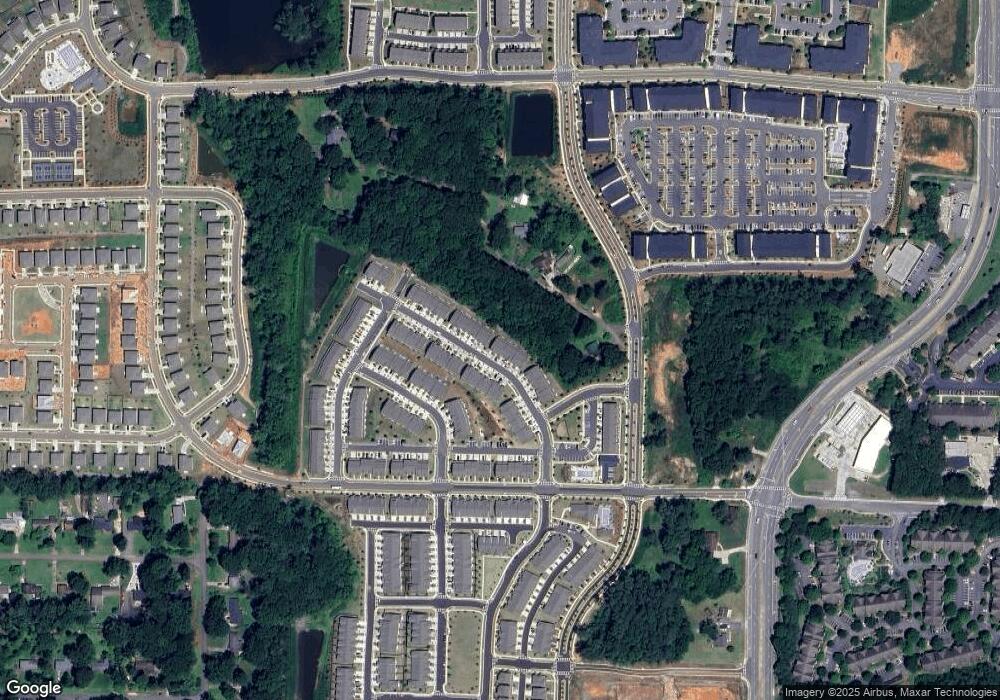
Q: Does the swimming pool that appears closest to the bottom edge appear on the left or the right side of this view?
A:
right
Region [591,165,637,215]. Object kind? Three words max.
building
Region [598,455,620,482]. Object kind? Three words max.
building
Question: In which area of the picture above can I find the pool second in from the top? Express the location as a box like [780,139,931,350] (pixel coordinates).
[571,465,603,482]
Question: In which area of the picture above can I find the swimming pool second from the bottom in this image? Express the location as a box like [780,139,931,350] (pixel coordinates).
[597,504,613,528]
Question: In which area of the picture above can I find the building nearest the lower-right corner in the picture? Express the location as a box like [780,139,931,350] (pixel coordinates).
[920,638,985,669]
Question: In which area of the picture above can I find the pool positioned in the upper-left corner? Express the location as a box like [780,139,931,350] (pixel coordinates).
[41,40,91,91]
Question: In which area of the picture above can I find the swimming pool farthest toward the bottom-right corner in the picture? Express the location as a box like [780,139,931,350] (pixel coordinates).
[848,560,875,584]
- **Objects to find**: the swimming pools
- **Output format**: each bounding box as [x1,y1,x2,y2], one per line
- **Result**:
[597,504,613,528]
[848,560,875,584]
[41,40,91,91]
[571,465,603,482]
